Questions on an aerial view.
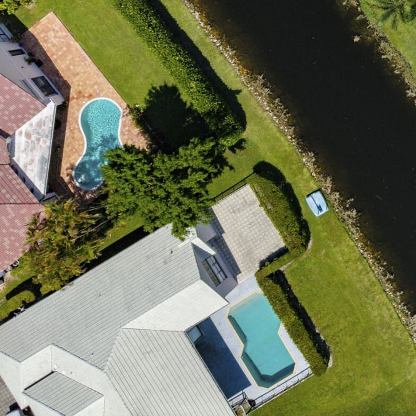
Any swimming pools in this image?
Yes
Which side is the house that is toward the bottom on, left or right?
left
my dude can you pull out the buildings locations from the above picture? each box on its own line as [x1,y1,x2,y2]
[0,20,69,271]
[0,219,237,416]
